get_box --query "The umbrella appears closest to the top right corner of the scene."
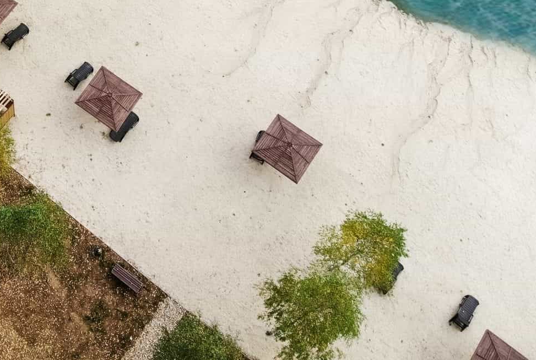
[252,113,323,183]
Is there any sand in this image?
Yes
